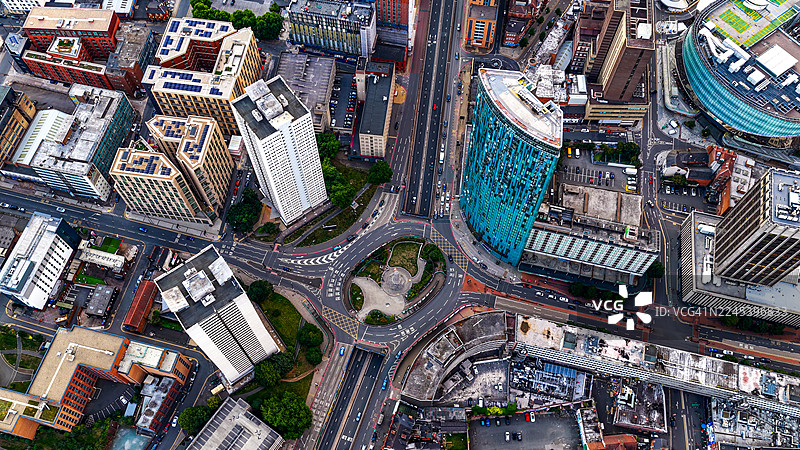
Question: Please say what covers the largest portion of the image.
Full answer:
Most of the picture is covered by buildings.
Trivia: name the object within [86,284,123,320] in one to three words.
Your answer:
building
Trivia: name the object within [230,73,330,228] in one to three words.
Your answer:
building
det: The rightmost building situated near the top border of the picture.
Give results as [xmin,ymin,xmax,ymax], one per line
[677,0,800,144]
